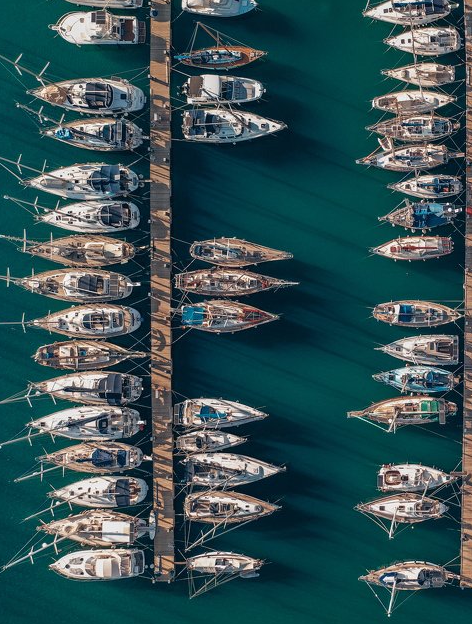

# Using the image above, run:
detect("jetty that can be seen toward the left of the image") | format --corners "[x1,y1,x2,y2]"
[147,0,178,582]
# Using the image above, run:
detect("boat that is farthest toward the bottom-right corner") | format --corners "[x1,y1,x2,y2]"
[352,561,461,616]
